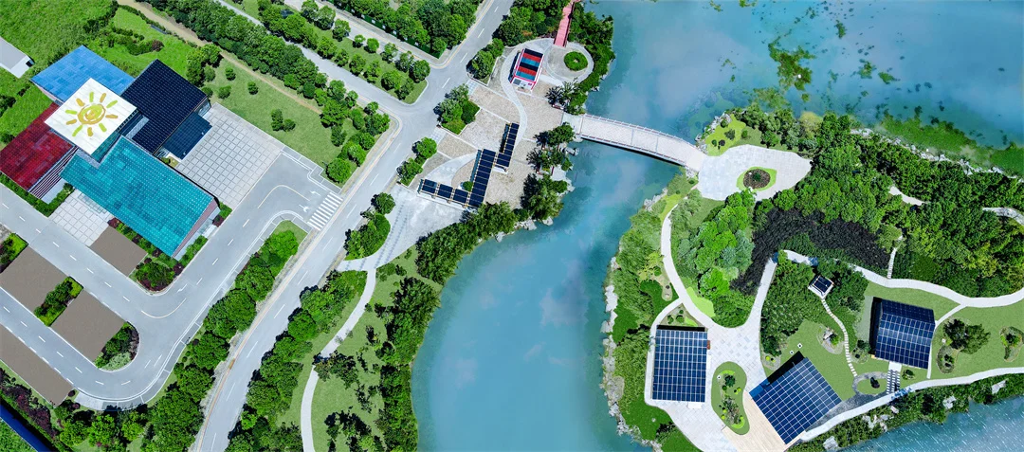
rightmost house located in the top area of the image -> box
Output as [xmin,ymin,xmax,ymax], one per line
[510,45,547,95]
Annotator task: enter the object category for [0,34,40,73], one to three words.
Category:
shed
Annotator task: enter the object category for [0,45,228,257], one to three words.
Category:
building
